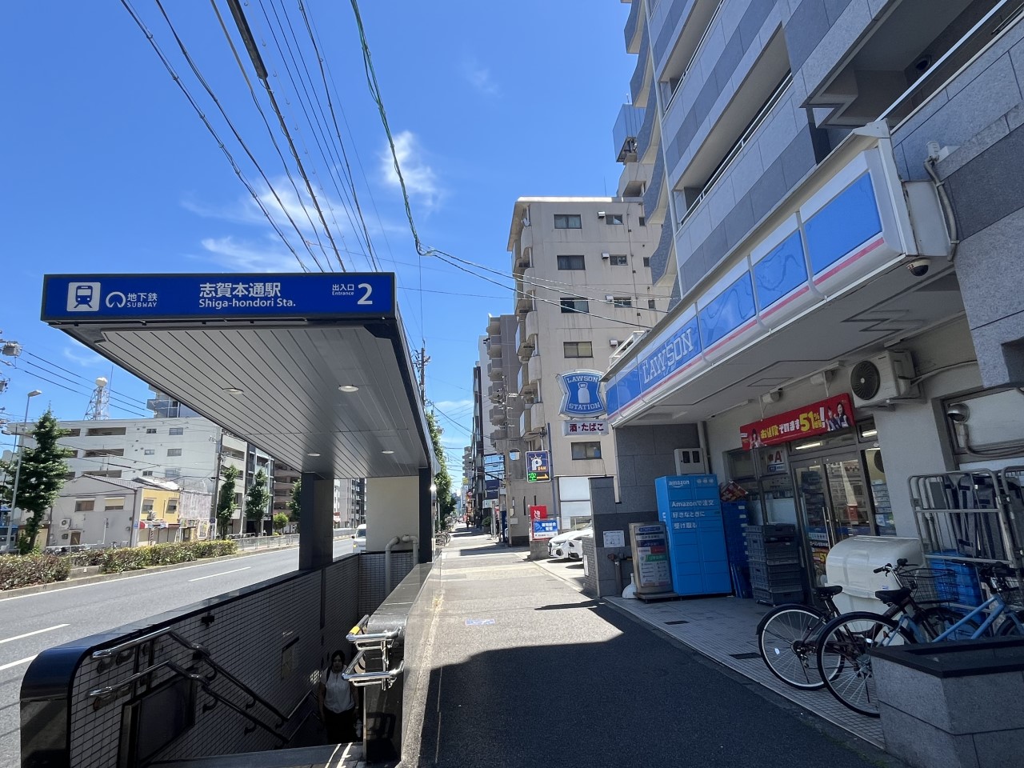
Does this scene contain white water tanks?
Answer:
No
